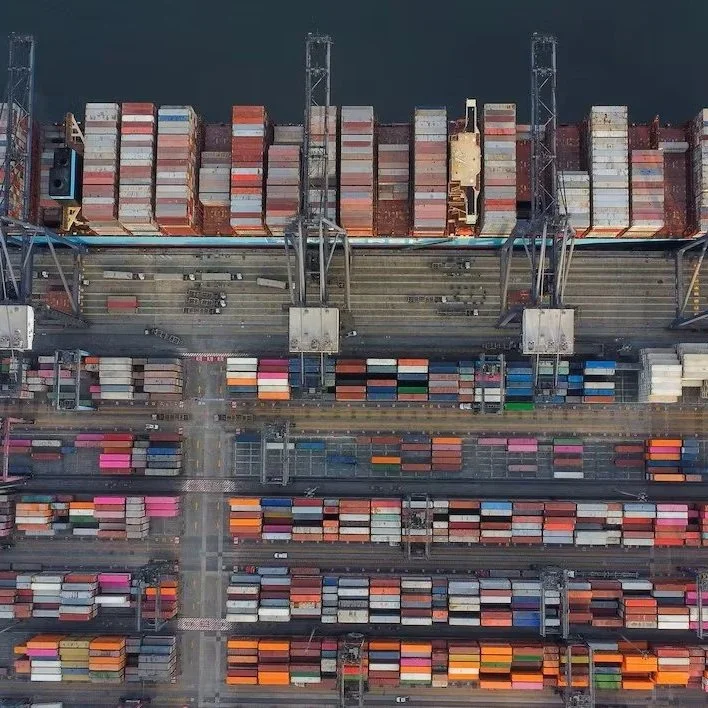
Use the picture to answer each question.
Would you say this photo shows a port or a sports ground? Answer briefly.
port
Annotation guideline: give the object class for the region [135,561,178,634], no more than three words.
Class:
container crane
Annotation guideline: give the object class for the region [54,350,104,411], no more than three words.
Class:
container crane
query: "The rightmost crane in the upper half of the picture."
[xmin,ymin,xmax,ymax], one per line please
[658,235,708,329]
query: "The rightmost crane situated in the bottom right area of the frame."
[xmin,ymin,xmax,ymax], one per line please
[673,560,708,642]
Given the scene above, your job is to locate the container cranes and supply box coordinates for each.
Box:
[54,350,104,411]
[287,33,359,391]
[260,420,298,486]
[337,620,369,708]
[658,235,708,329]
[485,32,581,393]
[673,560,708,642]
[0,34,100,389]
[550,627,595,708]
[0,418,37,486]
[469,354,505,413]
[525,557,569,640]
[400,488,431,560]
[135,561,178,634]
